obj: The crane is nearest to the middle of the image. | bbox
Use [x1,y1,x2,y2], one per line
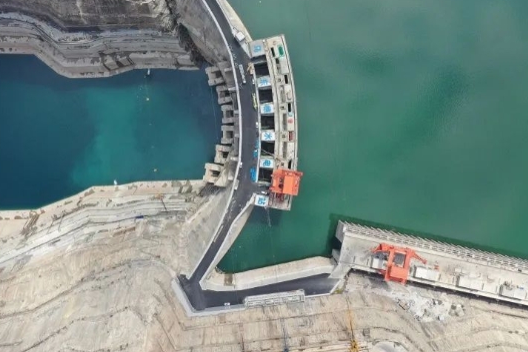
[269,165,305,195]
